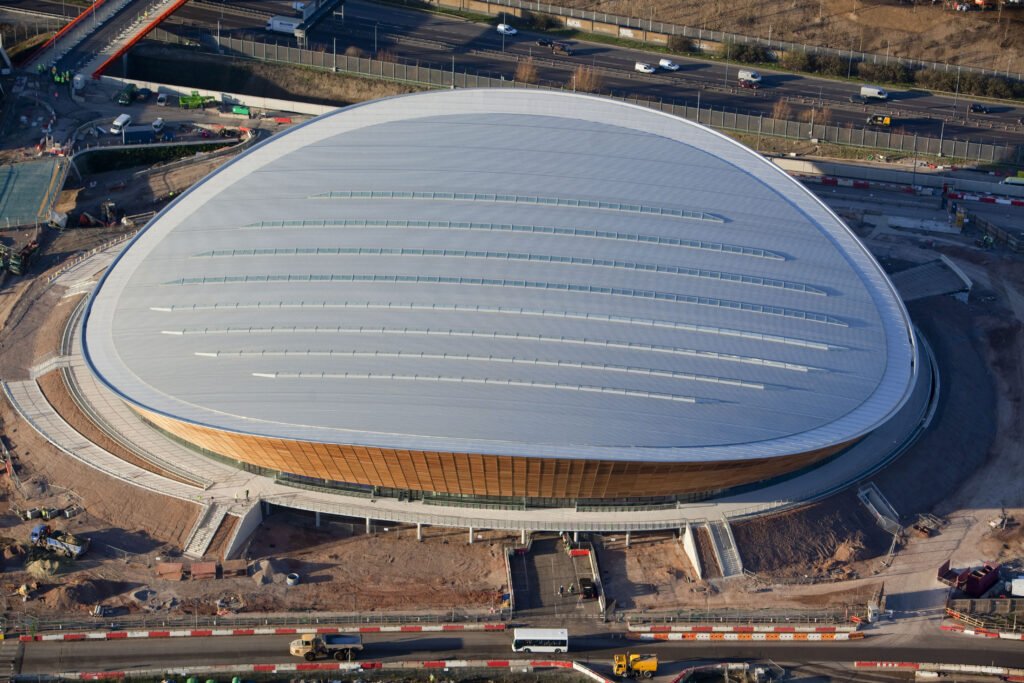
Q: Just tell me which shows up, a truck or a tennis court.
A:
truck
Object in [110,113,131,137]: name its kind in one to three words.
vehicle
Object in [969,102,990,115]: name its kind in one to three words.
vehicle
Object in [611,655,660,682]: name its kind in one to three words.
truck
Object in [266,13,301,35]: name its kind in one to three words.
truck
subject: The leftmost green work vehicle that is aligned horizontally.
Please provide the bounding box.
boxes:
[176,95,211,112]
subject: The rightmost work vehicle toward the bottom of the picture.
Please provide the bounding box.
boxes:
[992,512,1019,531]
